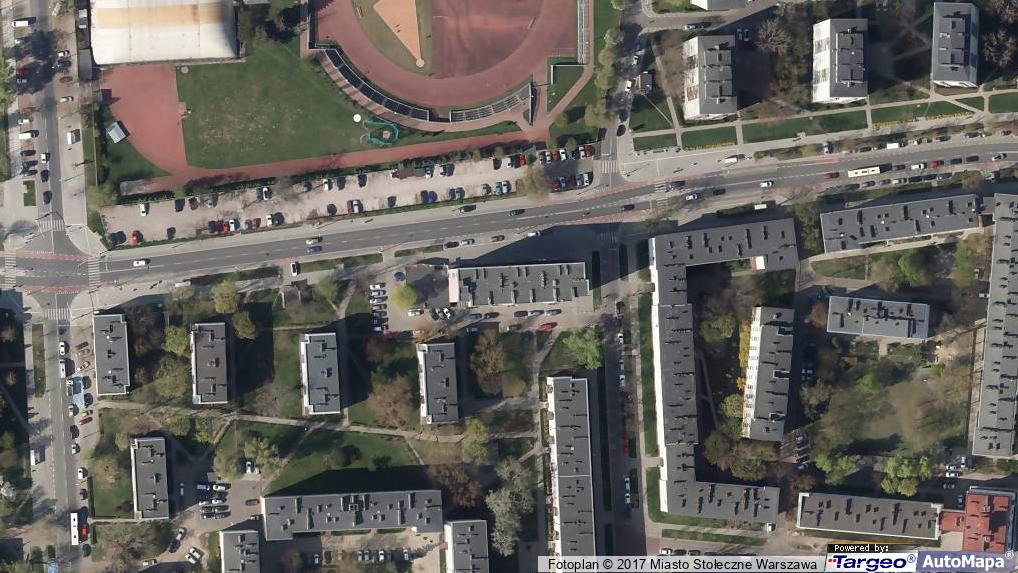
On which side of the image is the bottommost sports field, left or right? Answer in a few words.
left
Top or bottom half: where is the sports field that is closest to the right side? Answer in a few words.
top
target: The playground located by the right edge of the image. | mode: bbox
[850,342,976,441]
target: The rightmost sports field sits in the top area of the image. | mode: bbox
[431,0,543,80]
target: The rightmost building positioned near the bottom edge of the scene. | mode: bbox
[938,486,1016,573]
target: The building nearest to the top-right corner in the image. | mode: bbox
[920,2,973,88]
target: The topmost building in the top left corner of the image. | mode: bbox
[89,0,237,62]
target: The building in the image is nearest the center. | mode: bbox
[447,263,590,308]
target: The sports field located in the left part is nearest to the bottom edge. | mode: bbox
[178,57,521,168]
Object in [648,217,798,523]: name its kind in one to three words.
building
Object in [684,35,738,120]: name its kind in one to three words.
building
